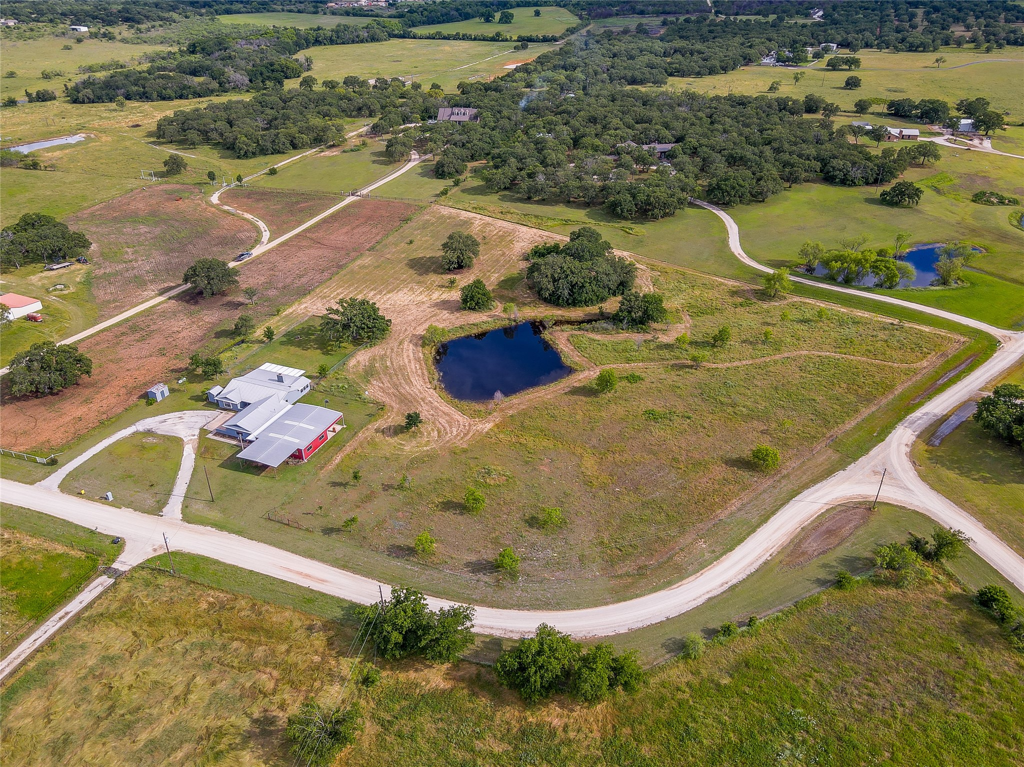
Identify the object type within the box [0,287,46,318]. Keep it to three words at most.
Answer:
barn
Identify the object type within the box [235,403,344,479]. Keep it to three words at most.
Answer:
barn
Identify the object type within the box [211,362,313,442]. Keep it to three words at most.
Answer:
house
